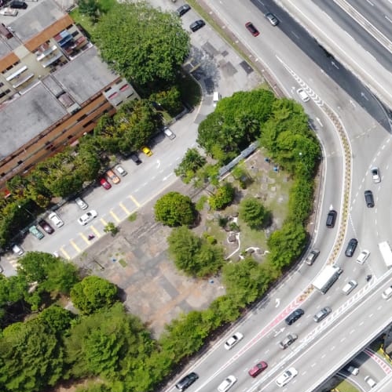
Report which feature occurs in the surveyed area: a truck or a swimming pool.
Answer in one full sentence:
The image shows a truck.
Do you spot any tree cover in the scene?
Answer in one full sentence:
Yes, there is tree cover in the image.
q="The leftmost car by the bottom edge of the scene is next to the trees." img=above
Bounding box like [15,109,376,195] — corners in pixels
[175,373,198,392]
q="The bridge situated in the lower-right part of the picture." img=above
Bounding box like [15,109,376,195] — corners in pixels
[328,341,392,392]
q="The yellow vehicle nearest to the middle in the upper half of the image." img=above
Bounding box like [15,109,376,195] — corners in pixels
[140,144,154,158]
